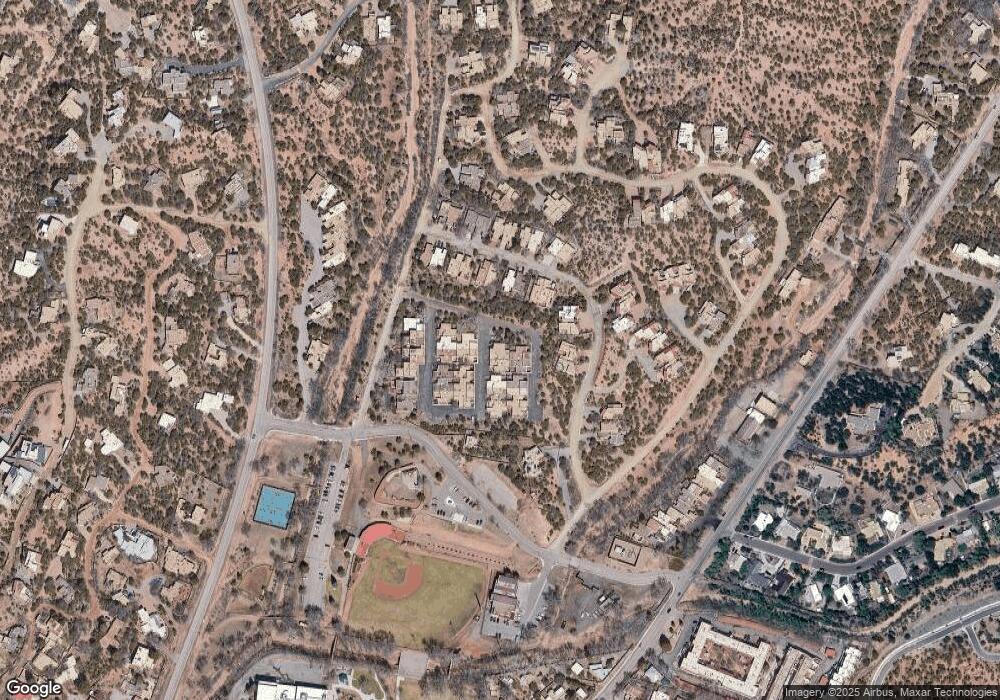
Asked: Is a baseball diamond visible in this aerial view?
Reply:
Yes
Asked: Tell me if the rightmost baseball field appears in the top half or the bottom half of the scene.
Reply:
bottom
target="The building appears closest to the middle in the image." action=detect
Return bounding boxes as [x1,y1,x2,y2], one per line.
[488,343,530,373]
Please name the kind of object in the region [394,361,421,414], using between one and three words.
building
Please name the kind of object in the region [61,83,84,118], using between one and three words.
house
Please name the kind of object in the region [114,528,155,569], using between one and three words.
house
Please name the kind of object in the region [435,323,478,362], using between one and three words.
building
